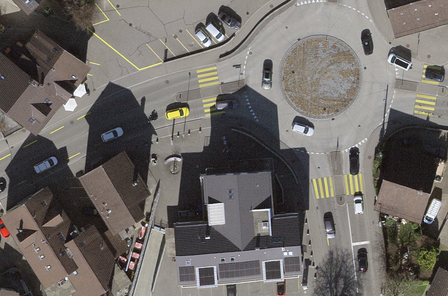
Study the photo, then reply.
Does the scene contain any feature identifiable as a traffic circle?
Yes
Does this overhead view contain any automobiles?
Yes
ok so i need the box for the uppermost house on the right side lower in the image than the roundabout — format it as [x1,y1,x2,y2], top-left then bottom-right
[374,150,439,224]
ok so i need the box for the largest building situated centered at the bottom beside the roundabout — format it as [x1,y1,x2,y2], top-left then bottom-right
[174,171,303,290]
